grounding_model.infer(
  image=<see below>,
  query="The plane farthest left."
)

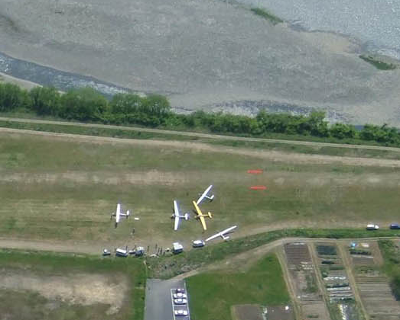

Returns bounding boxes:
[111,204,130,222]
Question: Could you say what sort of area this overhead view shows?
airport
